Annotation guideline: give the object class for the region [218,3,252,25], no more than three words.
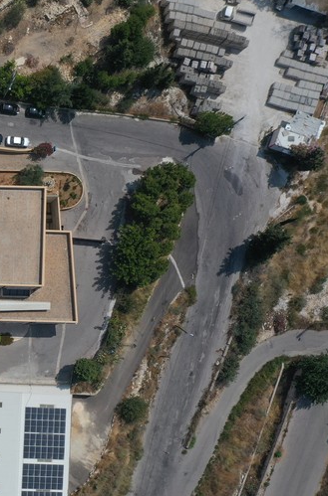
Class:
truck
